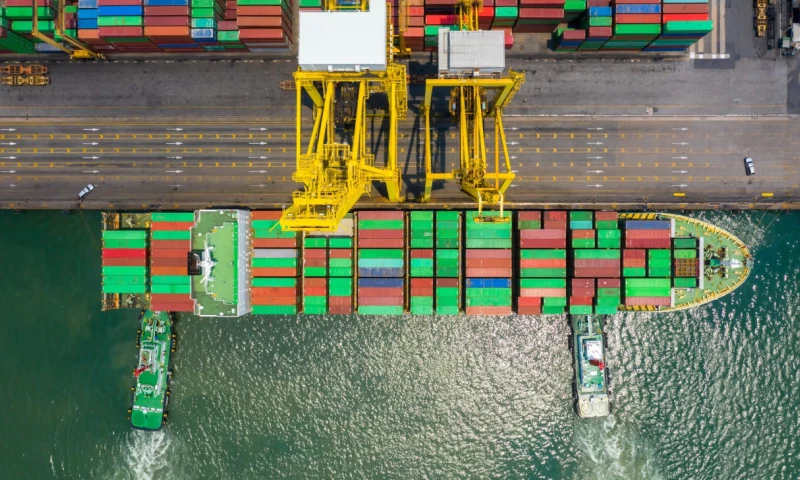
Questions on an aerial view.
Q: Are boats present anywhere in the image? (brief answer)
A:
Yes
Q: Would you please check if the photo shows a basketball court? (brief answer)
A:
No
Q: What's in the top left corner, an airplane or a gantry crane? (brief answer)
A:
gantry crane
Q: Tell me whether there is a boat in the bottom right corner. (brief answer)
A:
Yes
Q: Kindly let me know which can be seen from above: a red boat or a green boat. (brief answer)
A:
green boat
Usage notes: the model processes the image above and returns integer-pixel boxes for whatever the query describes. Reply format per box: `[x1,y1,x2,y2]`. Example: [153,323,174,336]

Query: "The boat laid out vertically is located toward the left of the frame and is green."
[127,310,174,432]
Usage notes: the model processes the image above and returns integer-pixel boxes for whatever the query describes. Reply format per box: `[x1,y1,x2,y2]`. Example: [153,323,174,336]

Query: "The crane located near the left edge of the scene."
[27,0,105,57]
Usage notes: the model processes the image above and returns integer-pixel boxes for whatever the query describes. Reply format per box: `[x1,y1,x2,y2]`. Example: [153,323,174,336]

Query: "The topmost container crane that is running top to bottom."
[386,0,413,57]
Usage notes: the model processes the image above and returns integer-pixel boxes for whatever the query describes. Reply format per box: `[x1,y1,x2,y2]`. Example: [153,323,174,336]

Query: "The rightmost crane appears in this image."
[412,0,534,222]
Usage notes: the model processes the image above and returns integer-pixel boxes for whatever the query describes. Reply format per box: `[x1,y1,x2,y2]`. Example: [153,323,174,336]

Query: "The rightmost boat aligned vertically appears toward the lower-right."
[567,313,612,418]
